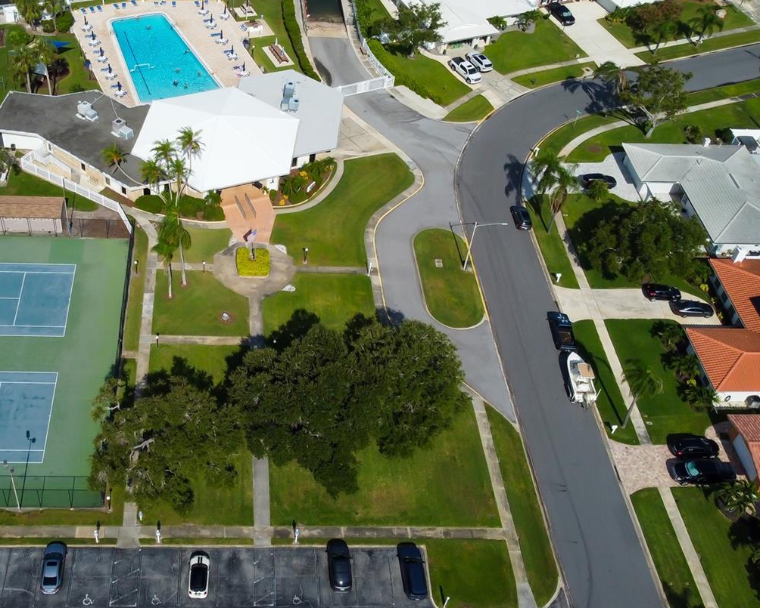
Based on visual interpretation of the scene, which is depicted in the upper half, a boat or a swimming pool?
swimming pool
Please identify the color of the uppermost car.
black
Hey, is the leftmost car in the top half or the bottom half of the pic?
bottom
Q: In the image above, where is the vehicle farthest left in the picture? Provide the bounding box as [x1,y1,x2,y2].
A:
[40,540,66,593]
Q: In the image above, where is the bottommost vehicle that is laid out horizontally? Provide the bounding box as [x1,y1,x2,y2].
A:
[674,459,739,485]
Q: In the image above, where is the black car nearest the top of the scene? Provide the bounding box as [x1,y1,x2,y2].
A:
[550,1,576,22]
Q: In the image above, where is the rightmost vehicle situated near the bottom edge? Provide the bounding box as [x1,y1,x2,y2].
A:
[397,543,431,599]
